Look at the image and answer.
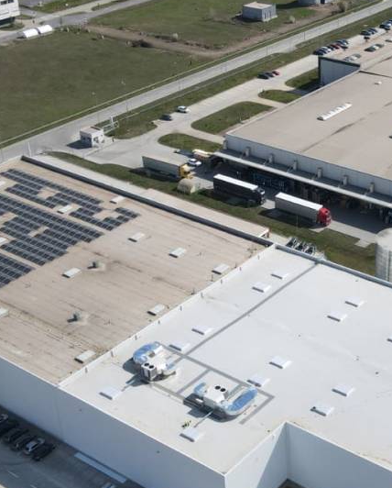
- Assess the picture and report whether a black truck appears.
Yes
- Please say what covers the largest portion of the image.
buildings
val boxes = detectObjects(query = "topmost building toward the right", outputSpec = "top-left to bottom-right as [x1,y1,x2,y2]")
[243,2,275,20]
